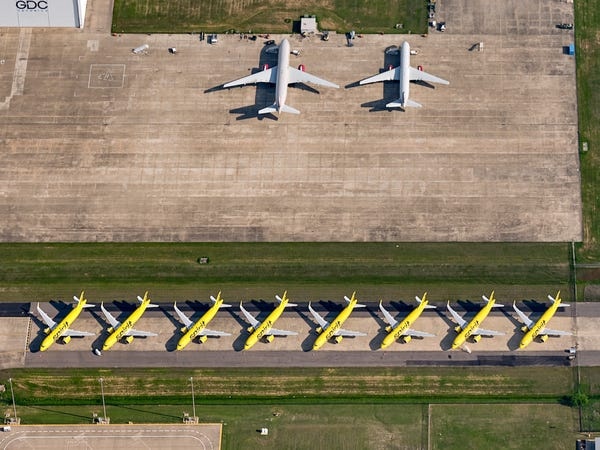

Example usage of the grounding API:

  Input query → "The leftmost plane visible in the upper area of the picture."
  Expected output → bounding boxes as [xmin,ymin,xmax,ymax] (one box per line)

[223,37,339,117]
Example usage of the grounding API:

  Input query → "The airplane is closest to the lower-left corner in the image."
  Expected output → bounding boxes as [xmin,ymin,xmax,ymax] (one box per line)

[38,292,96,350]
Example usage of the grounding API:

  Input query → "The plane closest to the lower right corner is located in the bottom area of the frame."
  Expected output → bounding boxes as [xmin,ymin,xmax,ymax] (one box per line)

[513,291,575,349]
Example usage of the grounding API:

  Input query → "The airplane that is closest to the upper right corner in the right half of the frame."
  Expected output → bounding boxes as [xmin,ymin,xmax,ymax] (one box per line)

[359,41,450,110]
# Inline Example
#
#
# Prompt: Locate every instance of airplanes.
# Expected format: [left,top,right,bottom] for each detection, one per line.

[446,291,507,349]
[174,292,233,350]
[240,291,300,349]
[379,292,437,349]
[513,291,575,349]
[38,292,96,350]
[101,292,159,349]
[359,41,450,110]
[309,292,369,350]
[223,37,339,117]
